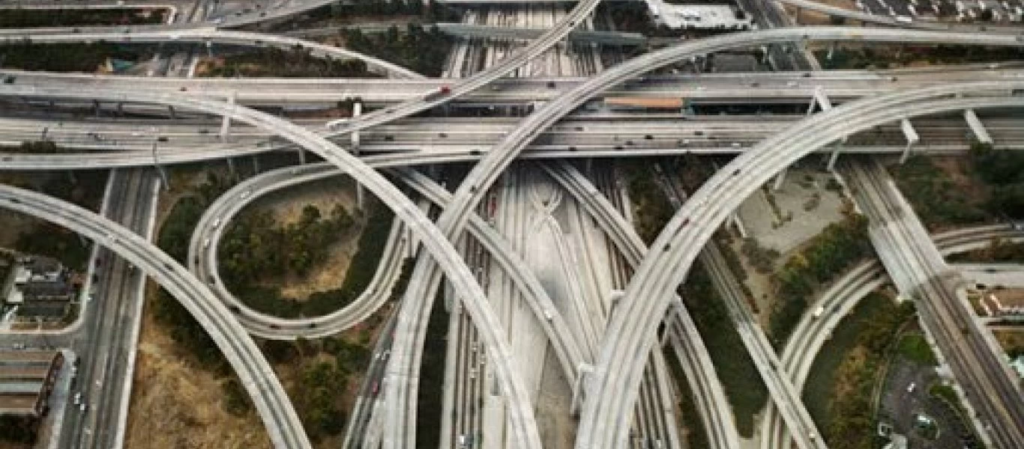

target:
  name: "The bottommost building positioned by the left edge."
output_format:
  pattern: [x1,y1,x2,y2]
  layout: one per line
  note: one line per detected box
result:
[0,349,79,421]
